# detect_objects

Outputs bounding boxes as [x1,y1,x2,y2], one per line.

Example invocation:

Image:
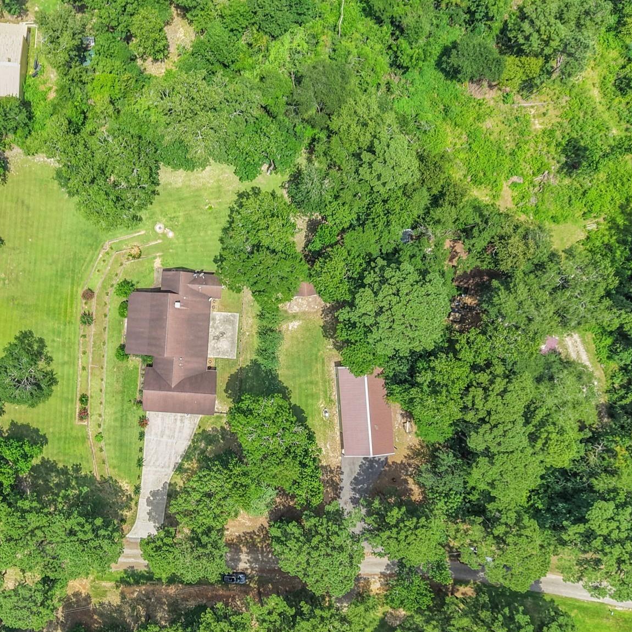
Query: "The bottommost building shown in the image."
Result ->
[335,364,396,457]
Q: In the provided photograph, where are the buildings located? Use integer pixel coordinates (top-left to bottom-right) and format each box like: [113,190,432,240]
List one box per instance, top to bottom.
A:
[0,22,31,106]
[124,271,222,414]
[293,278,318,297]
[537,336,558,354]
[335,364,396,457]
